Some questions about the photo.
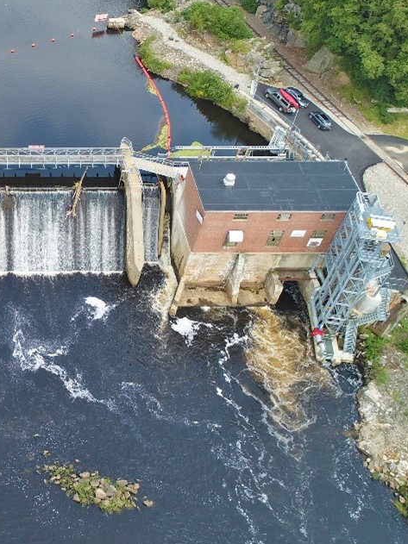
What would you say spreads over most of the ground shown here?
water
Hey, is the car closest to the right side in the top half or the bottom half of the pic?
top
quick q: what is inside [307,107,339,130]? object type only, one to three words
car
